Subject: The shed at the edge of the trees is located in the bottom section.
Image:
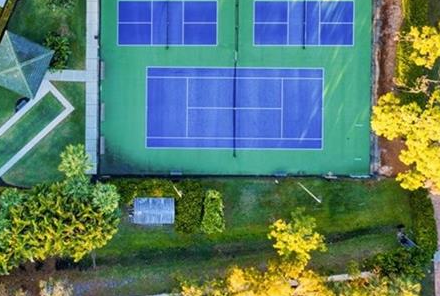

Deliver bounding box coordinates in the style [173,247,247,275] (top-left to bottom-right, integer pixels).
[134,198,175,225]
